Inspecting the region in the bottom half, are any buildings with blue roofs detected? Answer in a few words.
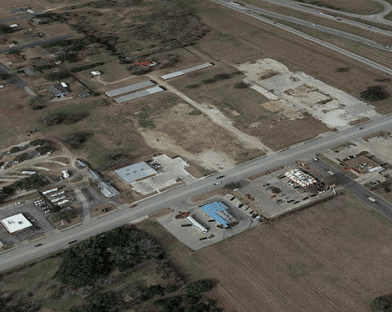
Yes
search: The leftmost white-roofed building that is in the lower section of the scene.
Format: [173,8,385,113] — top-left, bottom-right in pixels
[3,212,34,237]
